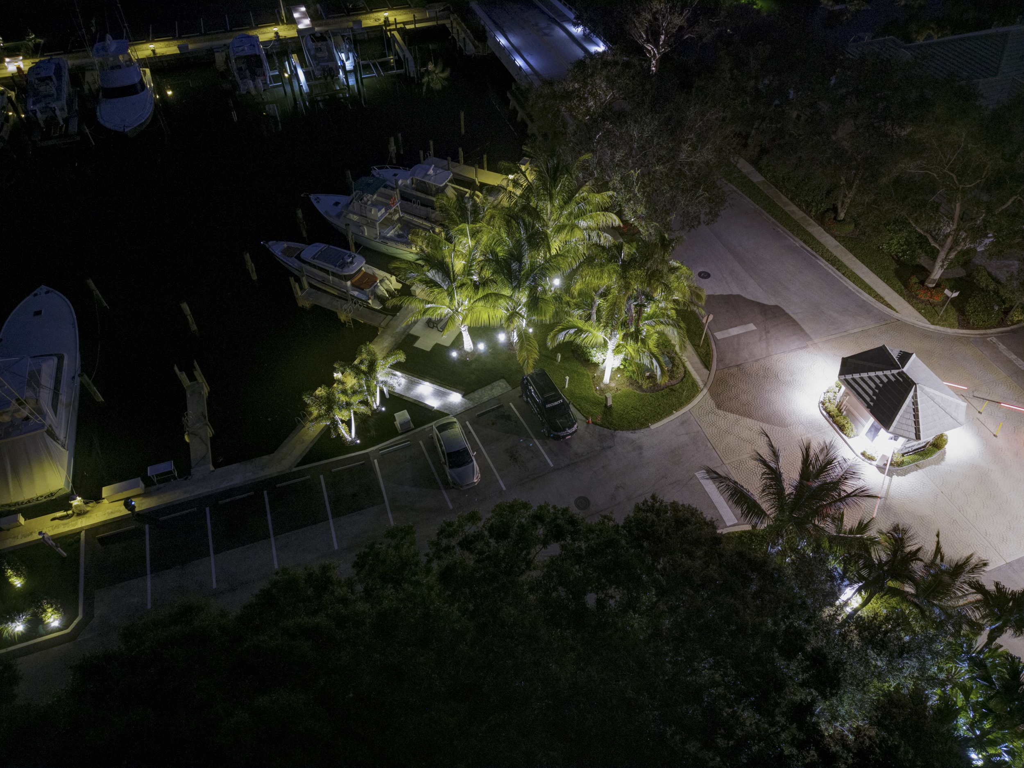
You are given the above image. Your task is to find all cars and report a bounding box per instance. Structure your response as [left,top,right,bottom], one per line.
[515,369,583,445]
[424,417,487,498]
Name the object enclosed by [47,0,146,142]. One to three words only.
boat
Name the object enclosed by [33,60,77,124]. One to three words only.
boat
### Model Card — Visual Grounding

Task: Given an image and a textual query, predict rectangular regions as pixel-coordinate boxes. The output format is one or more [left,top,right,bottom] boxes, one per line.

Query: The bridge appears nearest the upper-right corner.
[468,0,641,101]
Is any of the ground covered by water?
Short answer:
Yes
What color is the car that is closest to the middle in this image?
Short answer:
black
